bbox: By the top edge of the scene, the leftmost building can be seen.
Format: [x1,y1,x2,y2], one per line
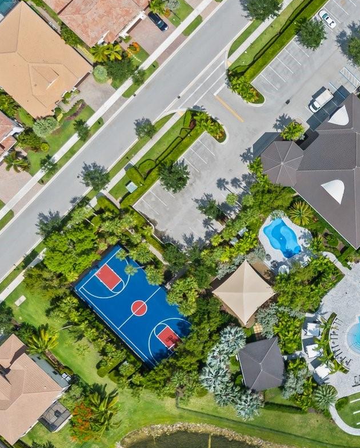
[0,0,94,121]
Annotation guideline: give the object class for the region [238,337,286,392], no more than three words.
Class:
gazebo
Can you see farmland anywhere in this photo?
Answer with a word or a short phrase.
No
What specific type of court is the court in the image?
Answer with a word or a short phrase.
basketball court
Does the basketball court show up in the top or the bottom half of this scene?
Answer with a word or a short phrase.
bottom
